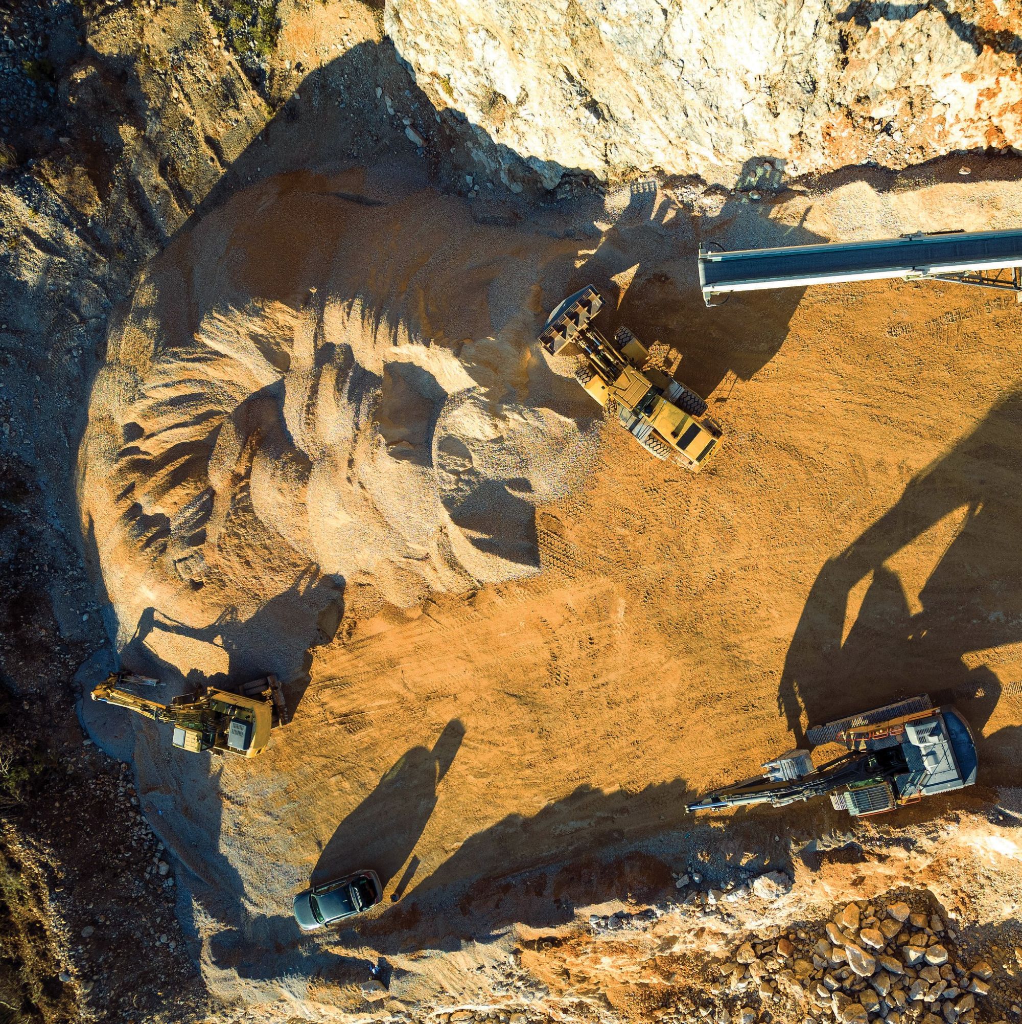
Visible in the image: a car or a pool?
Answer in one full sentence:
I can see a car in this picture.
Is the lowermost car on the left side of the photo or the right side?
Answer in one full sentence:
It is on the left.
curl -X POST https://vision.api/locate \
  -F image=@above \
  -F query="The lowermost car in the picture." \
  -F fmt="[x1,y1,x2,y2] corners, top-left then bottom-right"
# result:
[291,866,384,929]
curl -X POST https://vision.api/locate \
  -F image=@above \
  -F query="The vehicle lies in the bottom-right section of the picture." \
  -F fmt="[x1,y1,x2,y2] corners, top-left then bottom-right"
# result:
[681,690,979,819]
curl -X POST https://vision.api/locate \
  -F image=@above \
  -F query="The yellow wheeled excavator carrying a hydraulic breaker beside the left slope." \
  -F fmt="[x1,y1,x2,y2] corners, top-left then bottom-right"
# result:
[99,669,294,757]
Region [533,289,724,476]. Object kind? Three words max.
work vehicle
